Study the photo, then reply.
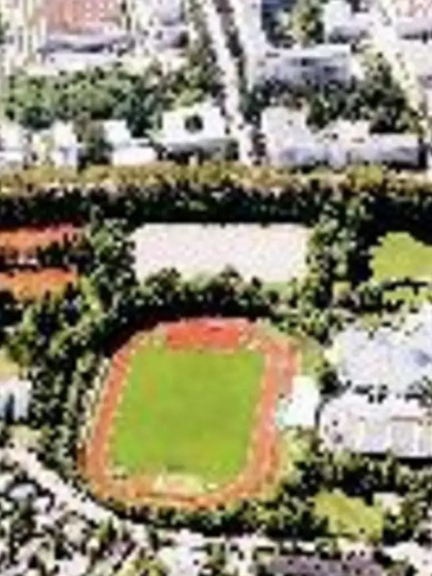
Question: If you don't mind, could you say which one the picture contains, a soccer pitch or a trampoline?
soccer pitch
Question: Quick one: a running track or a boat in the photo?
running track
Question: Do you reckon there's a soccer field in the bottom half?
Yes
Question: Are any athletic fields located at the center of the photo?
Yes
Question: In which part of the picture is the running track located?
bottom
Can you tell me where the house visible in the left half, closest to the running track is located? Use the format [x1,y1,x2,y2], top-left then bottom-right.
[160,526,185,542]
